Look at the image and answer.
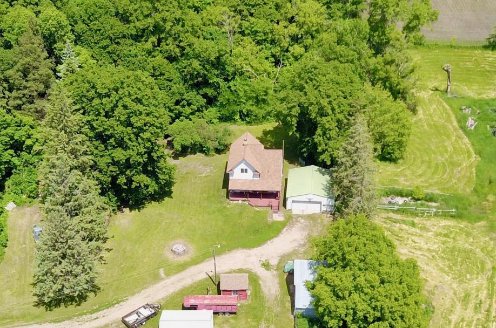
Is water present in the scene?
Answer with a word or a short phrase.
No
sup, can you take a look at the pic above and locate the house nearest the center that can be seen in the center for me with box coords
[227,133,283,216]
